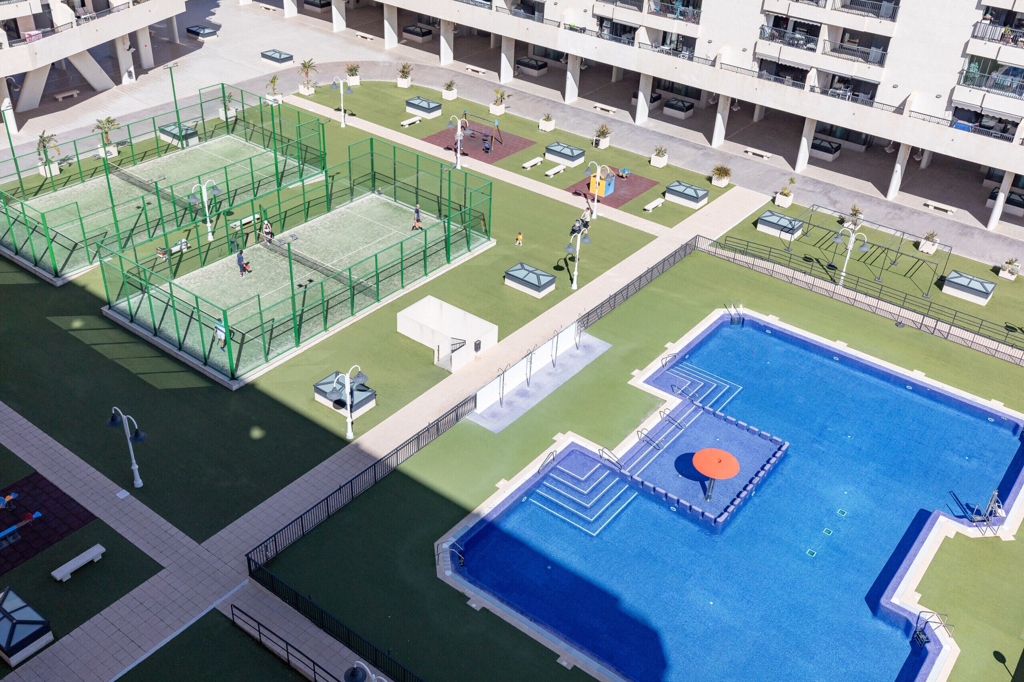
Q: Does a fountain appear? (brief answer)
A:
Yes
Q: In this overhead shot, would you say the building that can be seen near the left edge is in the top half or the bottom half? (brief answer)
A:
top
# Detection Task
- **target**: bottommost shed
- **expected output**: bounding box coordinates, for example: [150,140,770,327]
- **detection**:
[397,295,498,373]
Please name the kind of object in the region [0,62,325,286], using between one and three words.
sports court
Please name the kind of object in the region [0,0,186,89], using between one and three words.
building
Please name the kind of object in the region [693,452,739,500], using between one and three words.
fountain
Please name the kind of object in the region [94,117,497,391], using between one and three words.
sports court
